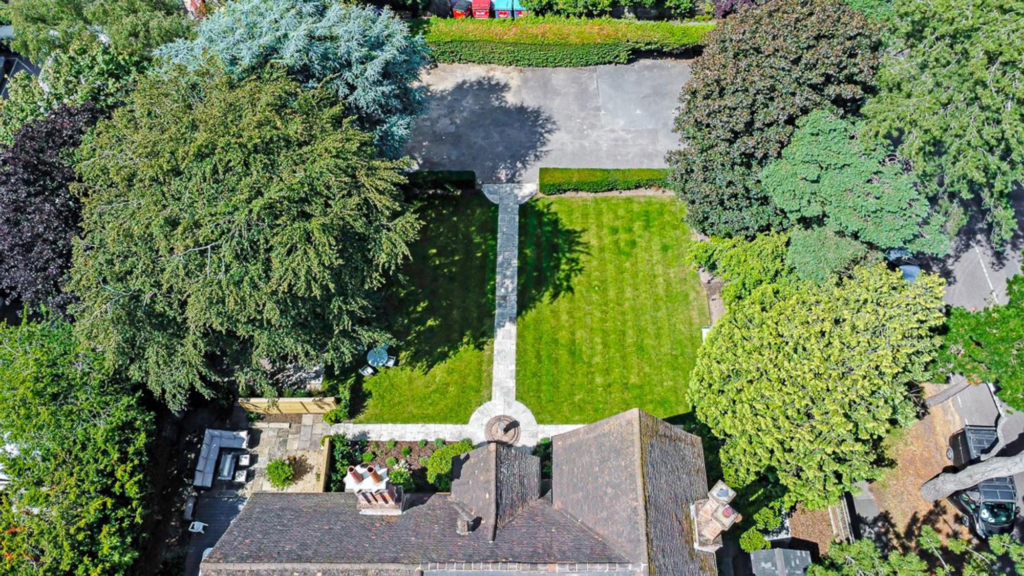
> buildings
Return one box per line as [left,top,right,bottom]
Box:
[733,548,809,576]
[200,407,739,576]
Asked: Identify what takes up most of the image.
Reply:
trees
